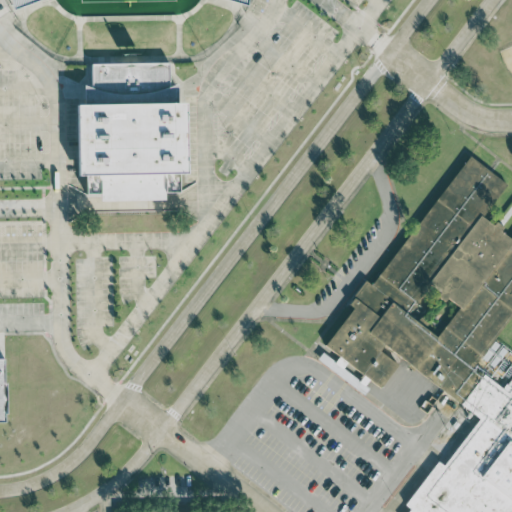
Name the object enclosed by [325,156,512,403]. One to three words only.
building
